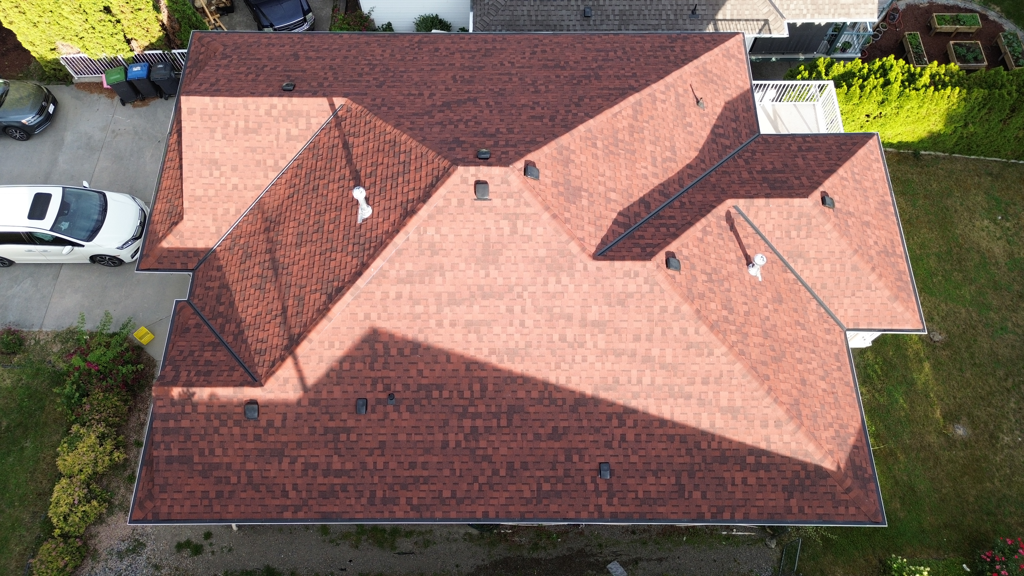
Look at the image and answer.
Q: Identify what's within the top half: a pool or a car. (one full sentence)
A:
It is a car that can be seen within the top half.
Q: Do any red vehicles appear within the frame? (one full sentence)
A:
No, the photo shows no red vehicle.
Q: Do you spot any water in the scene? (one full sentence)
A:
No, no water is visible.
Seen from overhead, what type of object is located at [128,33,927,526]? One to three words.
house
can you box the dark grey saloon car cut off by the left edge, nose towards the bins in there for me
[0,74,60,141]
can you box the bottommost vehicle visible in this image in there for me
[0,177,151,267]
